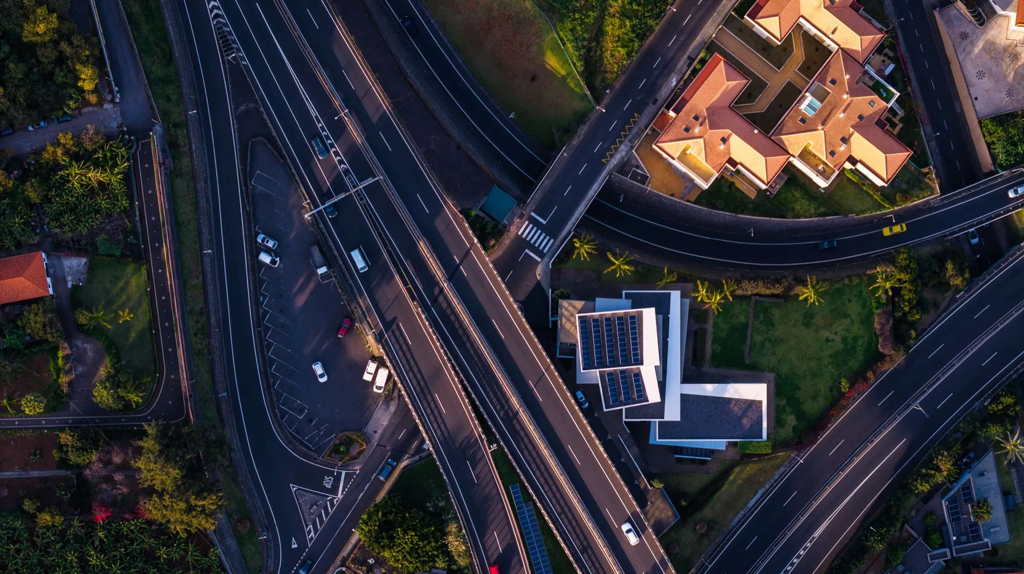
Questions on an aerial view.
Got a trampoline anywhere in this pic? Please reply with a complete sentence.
No, the frame has no trampoline in it.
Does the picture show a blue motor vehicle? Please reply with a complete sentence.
Yes, I can see a blue motor vehicle in this picture.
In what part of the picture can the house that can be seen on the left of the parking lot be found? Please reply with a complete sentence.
The house that can be seen on the left of the parking lot sits in the left section of the image.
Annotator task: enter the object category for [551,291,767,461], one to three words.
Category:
building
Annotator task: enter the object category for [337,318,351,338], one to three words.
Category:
car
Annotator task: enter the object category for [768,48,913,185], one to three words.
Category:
house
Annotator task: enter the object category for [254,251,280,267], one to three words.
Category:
vehicle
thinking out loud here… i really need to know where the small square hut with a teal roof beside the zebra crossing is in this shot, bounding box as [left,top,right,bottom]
[483,185,517,222]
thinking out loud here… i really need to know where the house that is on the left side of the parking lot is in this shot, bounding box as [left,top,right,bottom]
[0,250,64,306]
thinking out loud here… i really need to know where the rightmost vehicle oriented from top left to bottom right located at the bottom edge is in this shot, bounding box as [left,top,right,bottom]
[620,521,642,549]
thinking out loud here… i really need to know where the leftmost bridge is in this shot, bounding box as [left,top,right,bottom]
[209,0,529,574]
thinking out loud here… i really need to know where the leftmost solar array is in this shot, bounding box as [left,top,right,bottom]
[509,485,551,574]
